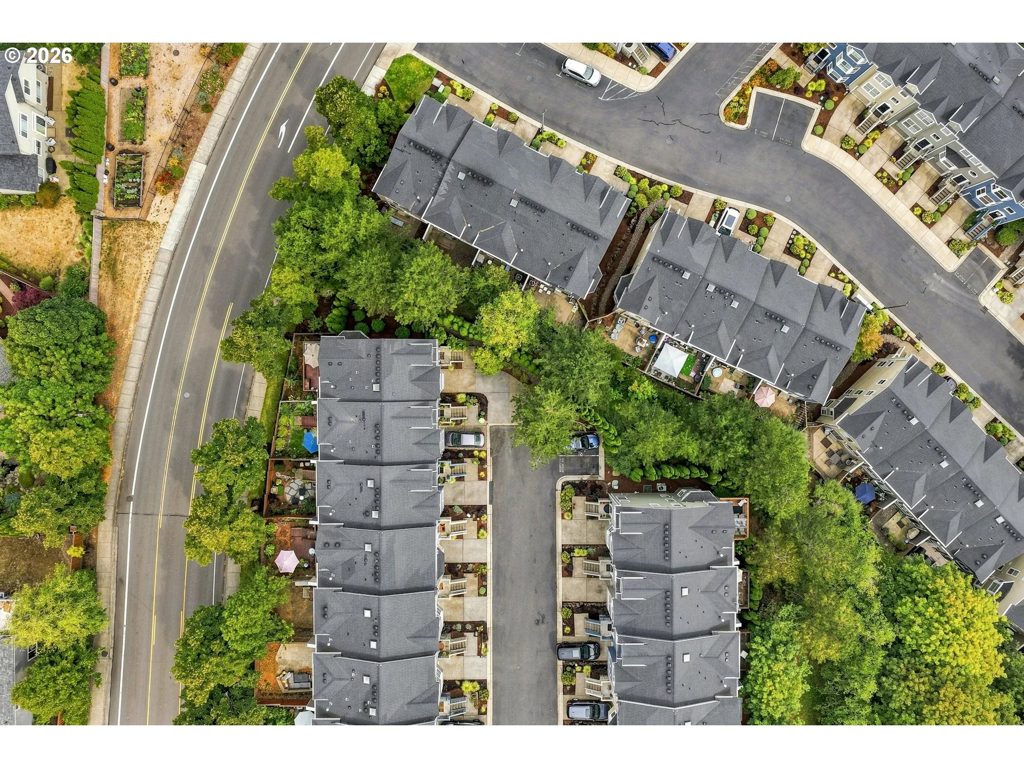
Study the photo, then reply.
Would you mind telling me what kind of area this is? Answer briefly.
residential area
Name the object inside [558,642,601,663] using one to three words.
car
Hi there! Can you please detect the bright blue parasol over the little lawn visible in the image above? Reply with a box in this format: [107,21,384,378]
[301,430,320,455]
